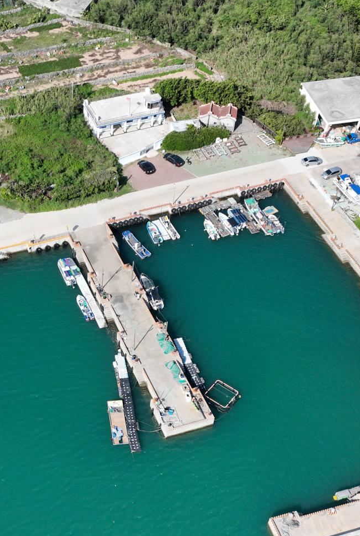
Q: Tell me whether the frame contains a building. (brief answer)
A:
Yes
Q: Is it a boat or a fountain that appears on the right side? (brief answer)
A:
boat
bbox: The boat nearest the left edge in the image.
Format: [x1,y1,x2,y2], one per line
[54,251,80,286]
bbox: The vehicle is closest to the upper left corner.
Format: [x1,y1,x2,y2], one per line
[136,157,156,173]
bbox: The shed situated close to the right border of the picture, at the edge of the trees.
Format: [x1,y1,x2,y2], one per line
[299,76,360,137]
